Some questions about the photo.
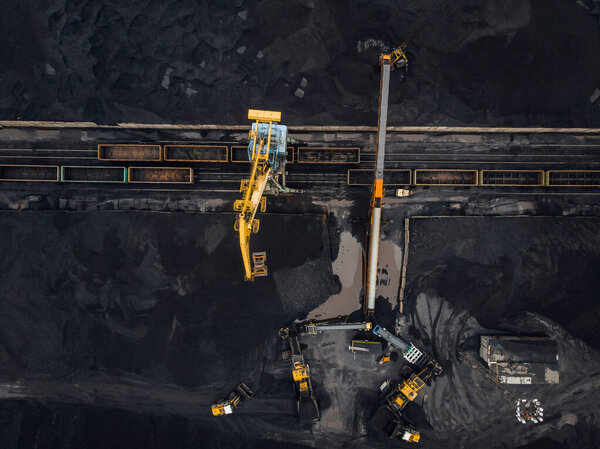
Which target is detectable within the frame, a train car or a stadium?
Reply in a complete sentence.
Looking from above, you can make out a train car.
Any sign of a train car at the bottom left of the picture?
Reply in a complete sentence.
No, no train car appears at the bottom left of the picture.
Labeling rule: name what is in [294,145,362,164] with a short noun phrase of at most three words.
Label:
rail car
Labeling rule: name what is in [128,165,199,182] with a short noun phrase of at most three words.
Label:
rail car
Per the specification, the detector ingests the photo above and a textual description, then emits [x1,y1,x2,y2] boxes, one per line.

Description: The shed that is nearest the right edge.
[480,334,561,385]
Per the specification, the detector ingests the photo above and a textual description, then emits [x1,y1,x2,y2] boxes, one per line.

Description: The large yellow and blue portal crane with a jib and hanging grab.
[231,107,316,283]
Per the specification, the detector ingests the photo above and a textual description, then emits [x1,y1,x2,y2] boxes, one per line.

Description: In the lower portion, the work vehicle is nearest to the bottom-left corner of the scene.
[212,380,259,421]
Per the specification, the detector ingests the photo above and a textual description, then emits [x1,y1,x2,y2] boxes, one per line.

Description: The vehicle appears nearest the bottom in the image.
[384,420,424,443]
